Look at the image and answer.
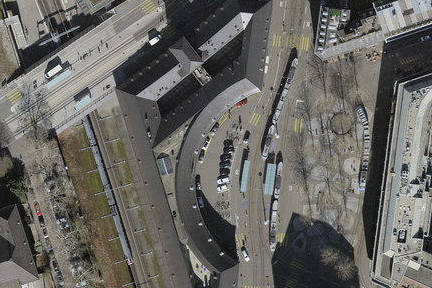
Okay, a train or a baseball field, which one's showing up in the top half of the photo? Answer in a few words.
train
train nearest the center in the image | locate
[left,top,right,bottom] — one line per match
[262,124,276,160]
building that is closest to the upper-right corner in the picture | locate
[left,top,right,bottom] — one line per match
[371,0,432,44]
